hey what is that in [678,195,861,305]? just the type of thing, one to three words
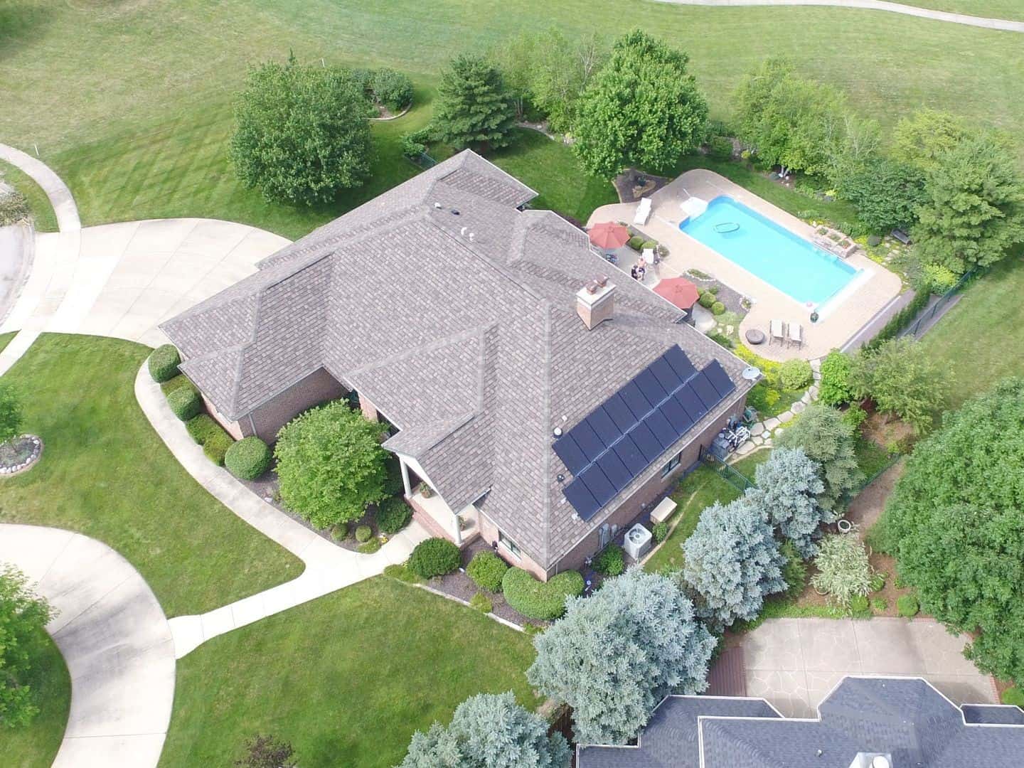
swimming pool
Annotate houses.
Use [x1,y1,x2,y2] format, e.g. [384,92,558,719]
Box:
[157,148,766,583]
[576,675,1024,768]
